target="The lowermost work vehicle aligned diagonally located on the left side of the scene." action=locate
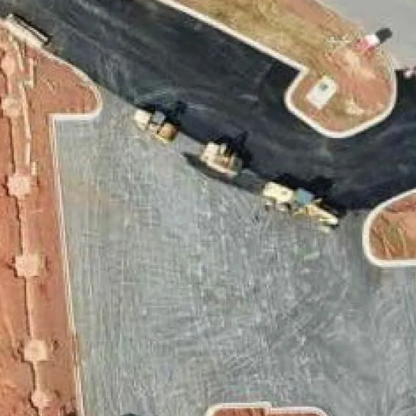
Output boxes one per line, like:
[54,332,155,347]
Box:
[137,108,181,146]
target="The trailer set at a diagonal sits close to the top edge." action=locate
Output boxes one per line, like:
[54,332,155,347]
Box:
[5,10,53,47]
